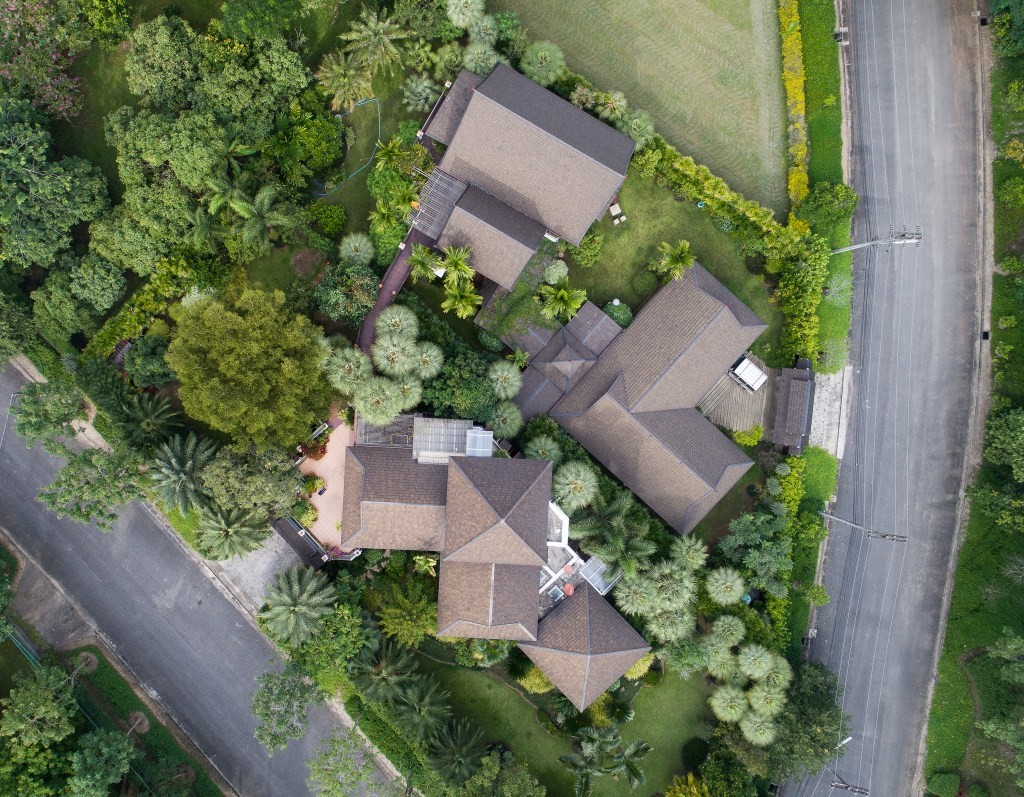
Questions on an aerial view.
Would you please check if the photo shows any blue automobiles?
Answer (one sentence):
No, there is no blue automobile in the image.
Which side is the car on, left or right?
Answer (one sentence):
The car sits on the right side.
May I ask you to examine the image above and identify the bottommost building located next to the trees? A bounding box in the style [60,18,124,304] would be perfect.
[340,417,652,713]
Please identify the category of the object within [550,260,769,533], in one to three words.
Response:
house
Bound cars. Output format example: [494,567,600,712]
[728,351,770,392]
